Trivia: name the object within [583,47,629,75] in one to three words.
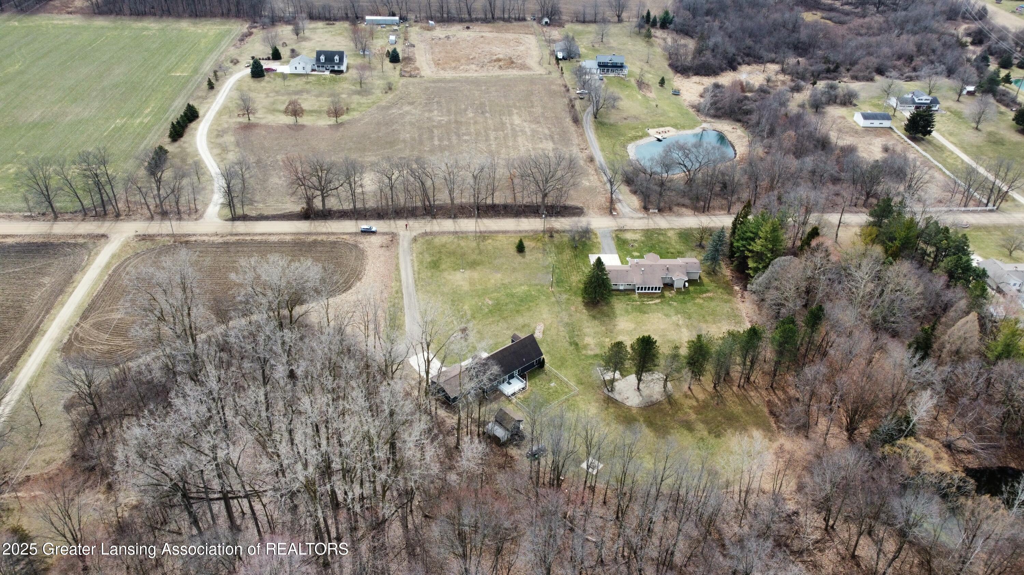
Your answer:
house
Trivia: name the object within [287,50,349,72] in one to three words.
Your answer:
house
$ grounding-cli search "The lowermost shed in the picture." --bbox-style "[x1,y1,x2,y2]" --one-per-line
[486,408,523,441]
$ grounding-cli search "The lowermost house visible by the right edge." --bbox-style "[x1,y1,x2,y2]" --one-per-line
[975,256,1024,300]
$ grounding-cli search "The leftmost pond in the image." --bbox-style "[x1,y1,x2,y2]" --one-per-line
[635,130,735,176]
